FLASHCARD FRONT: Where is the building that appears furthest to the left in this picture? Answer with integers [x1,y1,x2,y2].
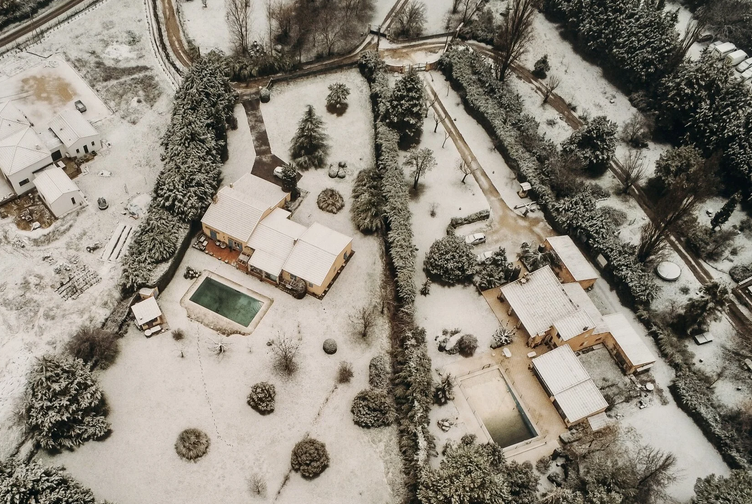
[0,100,100,215]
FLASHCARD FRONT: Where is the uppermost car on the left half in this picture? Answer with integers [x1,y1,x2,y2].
[73,99,88,113]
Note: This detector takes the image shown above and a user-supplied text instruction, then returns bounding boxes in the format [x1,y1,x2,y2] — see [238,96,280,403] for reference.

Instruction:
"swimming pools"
[183,272,270,331]
[455,362,545,452]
